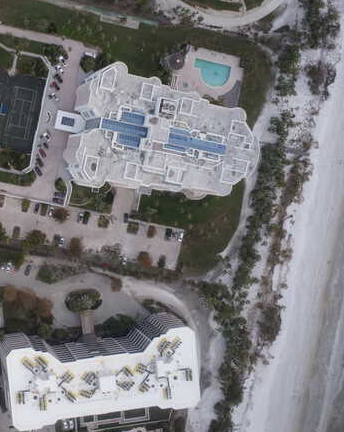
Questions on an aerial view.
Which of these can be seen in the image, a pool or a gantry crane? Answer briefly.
pool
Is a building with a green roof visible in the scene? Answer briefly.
No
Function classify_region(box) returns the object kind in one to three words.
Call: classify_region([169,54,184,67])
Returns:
gazebo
